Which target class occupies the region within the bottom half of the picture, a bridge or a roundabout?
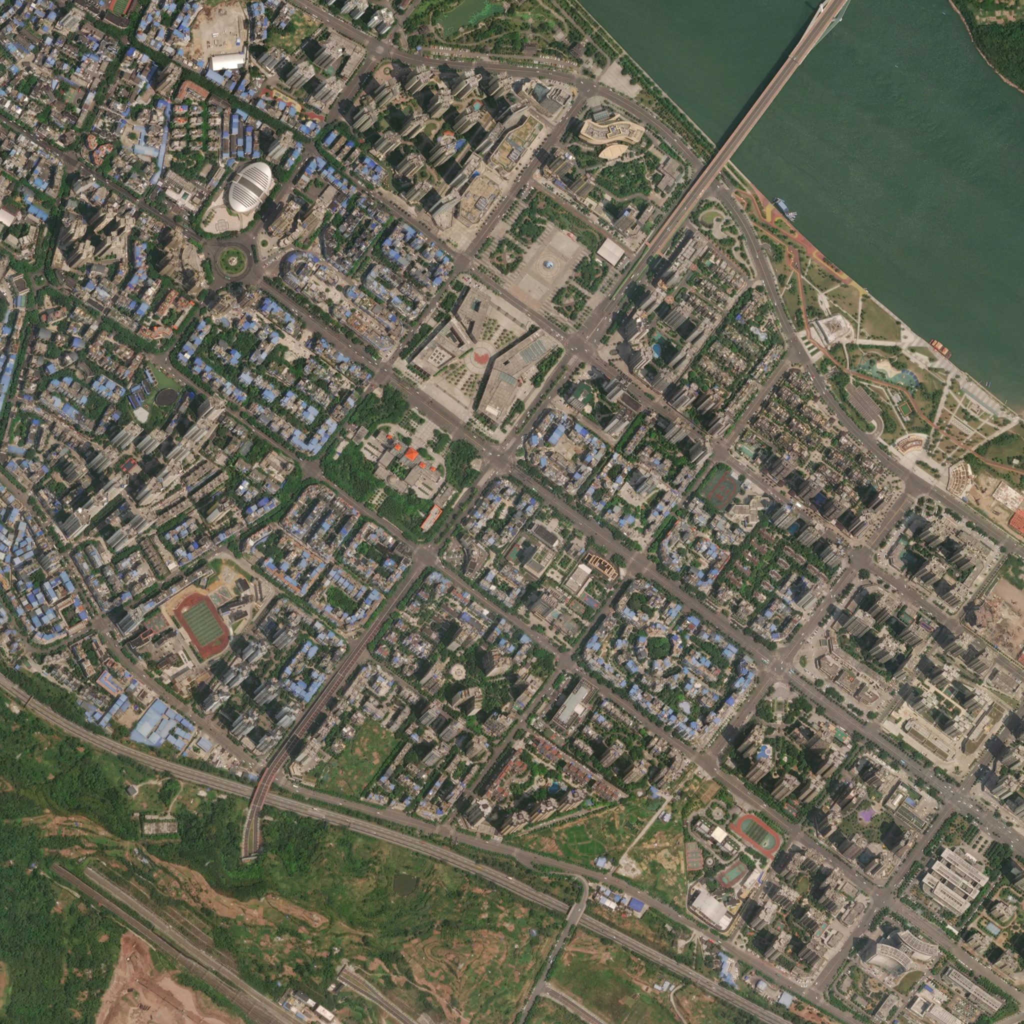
bridge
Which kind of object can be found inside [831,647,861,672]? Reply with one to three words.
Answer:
building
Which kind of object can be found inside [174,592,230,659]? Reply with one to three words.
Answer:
running track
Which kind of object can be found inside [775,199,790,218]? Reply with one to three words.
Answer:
ship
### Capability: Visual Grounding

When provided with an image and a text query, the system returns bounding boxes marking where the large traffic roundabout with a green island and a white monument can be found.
[210,237,257,284]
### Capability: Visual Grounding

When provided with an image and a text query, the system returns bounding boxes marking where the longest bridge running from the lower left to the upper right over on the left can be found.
[241,596,397,858]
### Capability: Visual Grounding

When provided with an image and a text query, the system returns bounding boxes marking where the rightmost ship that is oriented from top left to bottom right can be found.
[930,340,951,358]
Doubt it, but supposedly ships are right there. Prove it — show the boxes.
[775,199,790,218]
[930,340,951,358]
